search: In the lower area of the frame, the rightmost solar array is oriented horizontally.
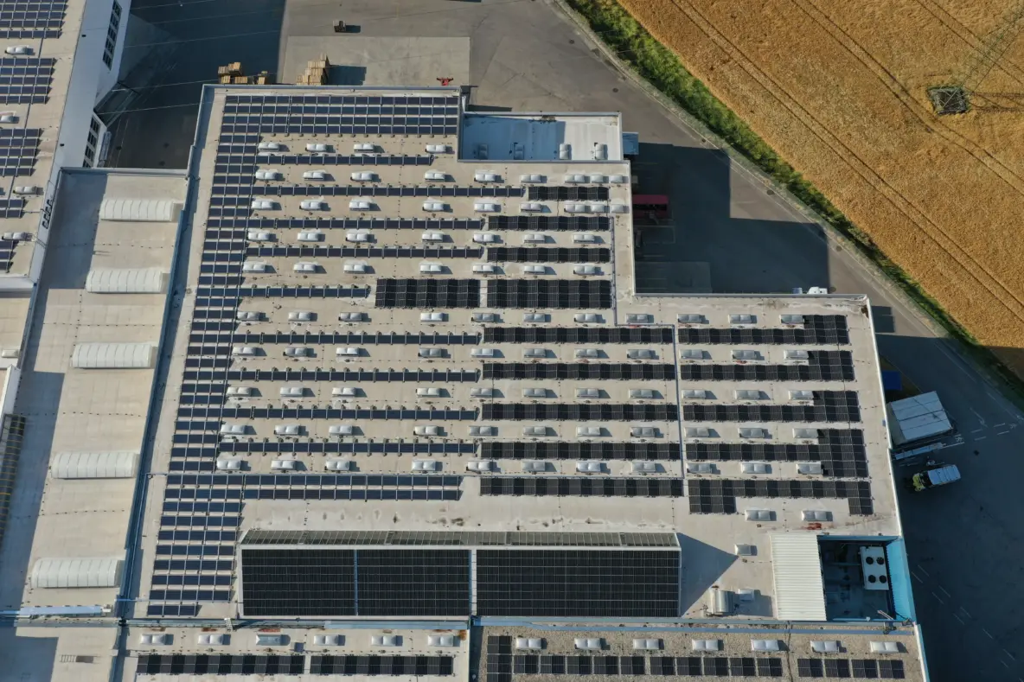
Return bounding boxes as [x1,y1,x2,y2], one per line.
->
[477,552,679,615]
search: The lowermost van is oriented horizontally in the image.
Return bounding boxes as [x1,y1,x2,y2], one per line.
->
[904,465,964,495]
